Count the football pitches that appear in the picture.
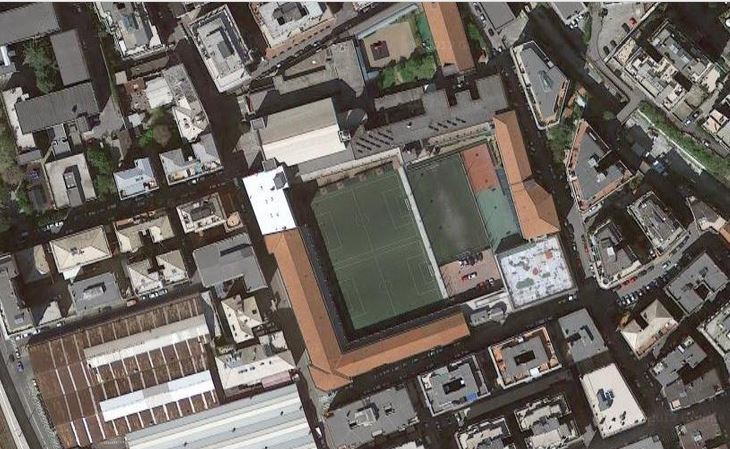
two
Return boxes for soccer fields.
[307,169,446,332]
[406,153,487,267]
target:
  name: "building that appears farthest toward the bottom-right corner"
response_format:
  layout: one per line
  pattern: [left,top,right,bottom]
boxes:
[674,414,723,449]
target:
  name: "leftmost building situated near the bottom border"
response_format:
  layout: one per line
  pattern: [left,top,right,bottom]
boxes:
[29,291,219,449]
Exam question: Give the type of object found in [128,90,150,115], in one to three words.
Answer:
house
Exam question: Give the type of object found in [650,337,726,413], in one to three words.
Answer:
building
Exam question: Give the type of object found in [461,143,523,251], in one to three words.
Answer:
sports court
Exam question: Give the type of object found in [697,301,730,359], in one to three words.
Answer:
building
